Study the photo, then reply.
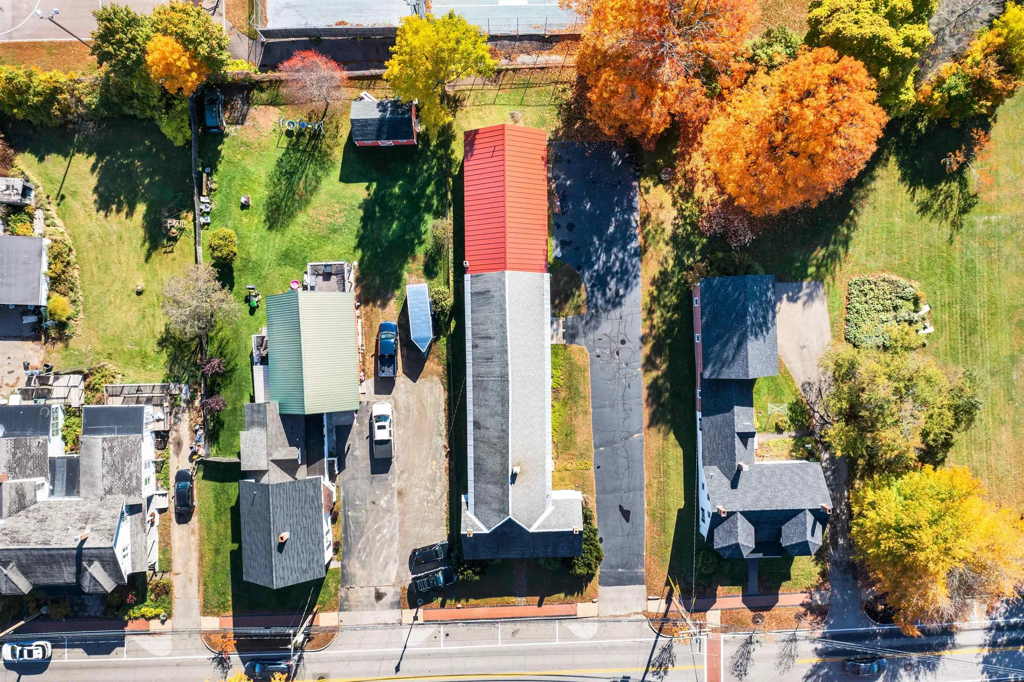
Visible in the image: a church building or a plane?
church building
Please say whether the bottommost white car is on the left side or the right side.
left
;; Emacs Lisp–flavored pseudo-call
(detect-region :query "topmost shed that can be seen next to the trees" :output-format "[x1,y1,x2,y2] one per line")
[350,100,416,147]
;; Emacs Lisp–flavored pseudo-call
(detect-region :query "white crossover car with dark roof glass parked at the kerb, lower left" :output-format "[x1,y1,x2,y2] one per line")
[2,638,54,664]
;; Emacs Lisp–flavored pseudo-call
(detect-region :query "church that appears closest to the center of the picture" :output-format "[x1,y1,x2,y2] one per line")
[461,123,584,559]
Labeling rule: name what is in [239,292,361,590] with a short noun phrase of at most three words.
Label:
building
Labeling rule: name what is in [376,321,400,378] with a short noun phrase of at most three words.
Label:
truck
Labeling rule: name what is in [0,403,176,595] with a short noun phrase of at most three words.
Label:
house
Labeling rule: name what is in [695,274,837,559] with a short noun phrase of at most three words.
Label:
house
